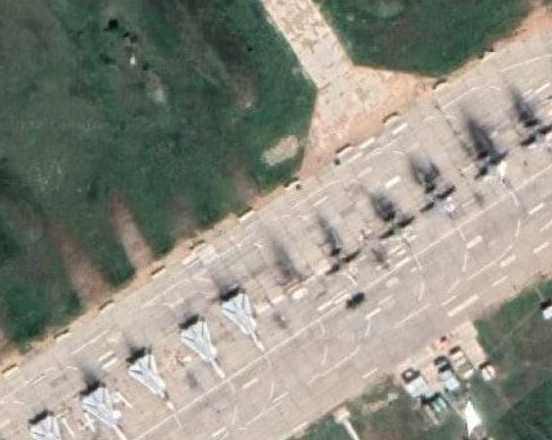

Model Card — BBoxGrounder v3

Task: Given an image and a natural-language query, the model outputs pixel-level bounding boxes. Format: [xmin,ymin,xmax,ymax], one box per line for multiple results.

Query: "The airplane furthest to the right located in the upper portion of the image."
[520,122,552,160]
